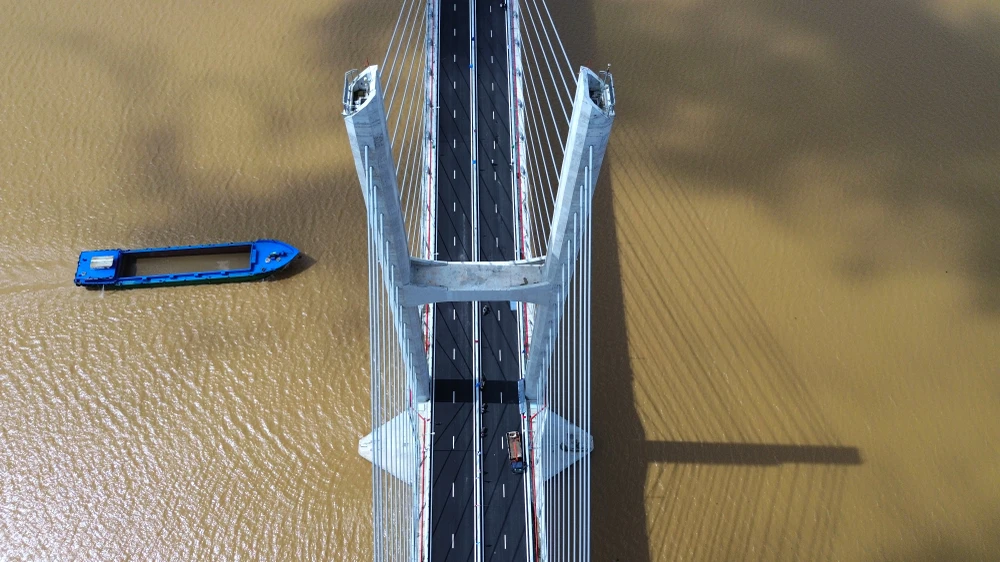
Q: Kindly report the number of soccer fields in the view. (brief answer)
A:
zero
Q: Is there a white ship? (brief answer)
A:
No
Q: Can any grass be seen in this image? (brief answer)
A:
No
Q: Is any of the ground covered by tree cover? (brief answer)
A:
No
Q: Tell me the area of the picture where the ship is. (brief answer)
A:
left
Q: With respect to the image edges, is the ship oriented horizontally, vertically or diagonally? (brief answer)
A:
horizontally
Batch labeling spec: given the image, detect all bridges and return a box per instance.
[343,0,611,562]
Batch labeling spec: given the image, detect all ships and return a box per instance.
[70,239,299,300]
